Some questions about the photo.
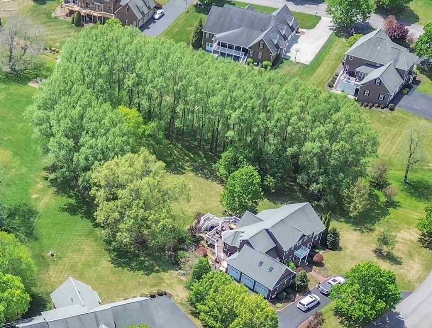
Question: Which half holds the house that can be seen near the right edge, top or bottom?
top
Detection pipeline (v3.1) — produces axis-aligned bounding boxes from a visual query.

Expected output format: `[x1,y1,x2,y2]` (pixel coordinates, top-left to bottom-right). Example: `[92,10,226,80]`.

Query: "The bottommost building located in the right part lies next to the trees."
[198,203,323,299]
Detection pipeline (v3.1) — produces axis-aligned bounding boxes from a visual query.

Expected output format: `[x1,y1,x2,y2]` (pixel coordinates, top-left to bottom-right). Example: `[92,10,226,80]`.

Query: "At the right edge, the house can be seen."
[334,24,422,107]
